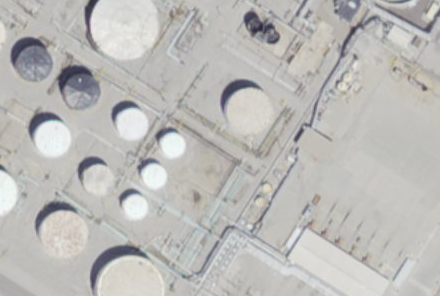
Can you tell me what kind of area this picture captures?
industrial area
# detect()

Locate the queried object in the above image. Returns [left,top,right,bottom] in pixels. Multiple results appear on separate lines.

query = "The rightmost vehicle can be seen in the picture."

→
[408,76,426,90]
